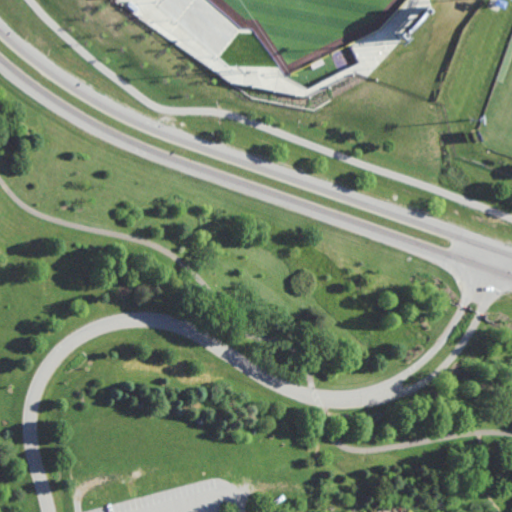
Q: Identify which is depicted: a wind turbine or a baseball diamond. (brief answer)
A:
baseball diamond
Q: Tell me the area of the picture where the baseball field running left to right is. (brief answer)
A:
top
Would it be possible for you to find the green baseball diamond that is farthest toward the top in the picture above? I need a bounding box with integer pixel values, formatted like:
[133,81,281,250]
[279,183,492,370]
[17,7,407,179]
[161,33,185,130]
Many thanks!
[208,0,404,74]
